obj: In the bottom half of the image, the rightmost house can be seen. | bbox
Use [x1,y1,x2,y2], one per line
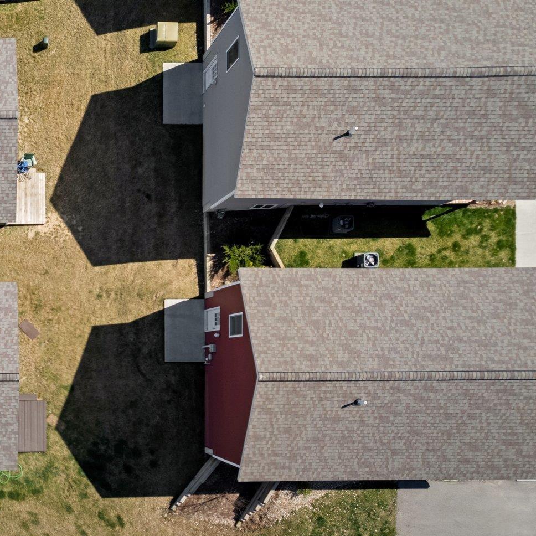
[204,268,536,480]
